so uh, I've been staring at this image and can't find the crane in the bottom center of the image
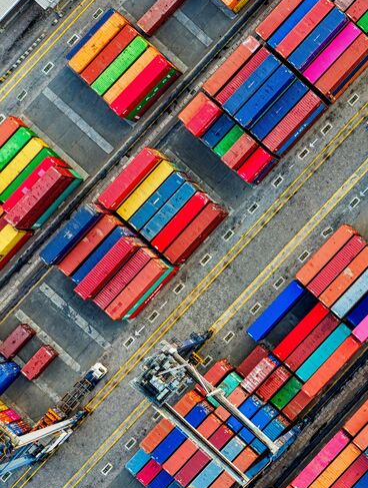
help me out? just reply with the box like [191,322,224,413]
[119,329,311,488]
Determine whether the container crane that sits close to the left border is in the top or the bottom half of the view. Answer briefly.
bottom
